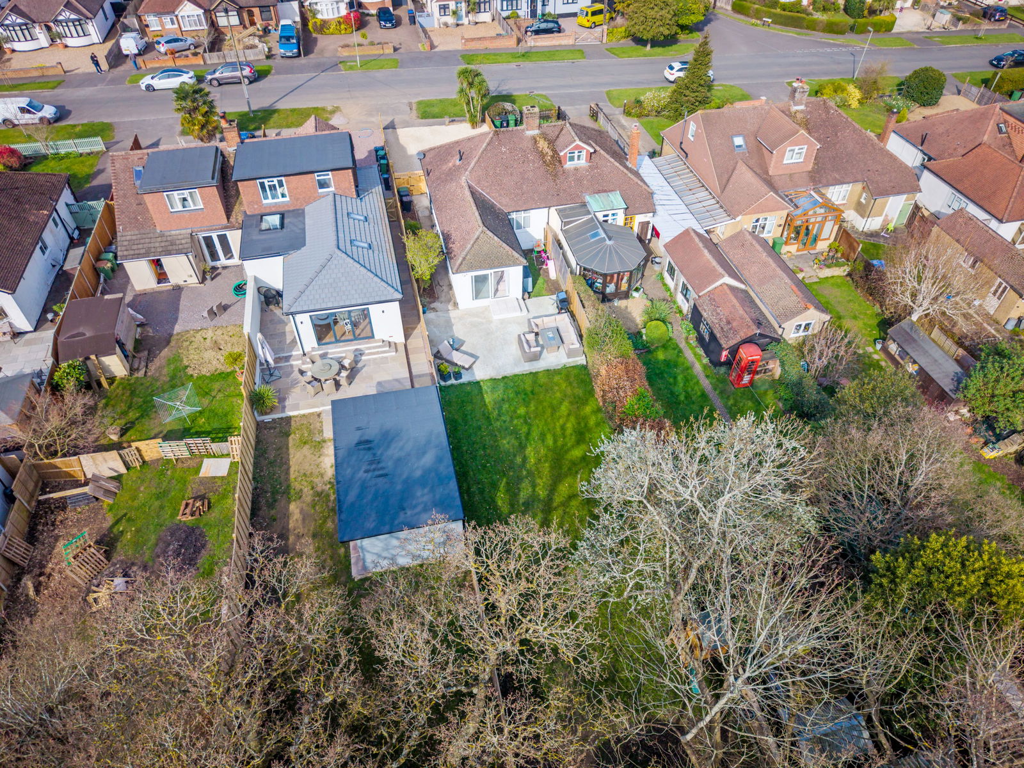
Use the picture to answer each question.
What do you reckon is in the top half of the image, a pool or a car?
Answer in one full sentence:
Looking in the top half of the image, you will find a car.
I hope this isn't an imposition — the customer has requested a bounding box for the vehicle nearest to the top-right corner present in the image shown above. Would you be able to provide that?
[987,2,1010,21]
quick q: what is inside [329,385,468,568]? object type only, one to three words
building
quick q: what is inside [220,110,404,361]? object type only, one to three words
house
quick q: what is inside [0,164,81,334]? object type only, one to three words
house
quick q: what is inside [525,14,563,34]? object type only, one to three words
car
